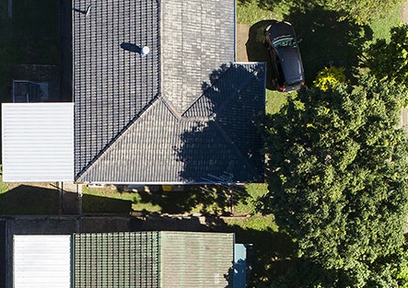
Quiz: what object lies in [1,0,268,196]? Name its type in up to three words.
house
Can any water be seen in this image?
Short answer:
No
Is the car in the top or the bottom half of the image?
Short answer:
top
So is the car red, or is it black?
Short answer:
black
